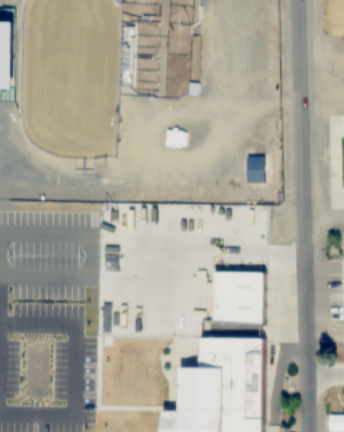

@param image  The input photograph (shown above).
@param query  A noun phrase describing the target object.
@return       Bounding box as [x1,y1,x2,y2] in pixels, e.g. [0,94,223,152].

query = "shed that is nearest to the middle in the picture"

[166,129,190,148]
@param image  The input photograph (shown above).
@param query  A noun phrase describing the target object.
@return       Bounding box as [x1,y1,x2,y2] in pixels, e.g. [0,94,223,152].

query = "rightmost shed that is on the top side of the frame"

[248,157,266,182]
